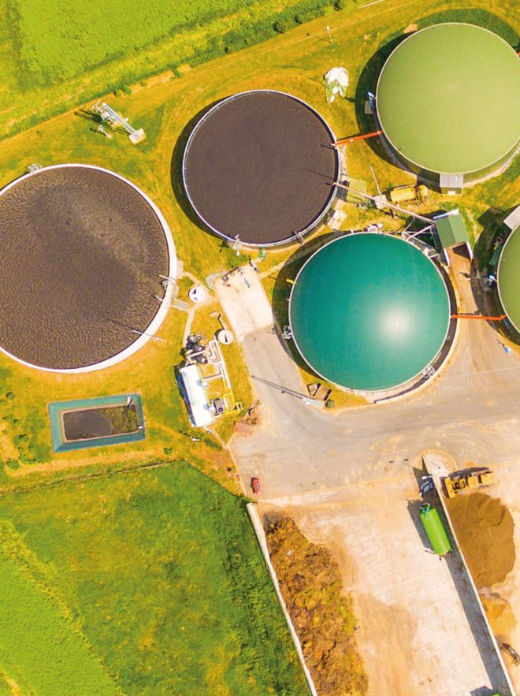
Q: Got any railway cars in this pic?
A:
No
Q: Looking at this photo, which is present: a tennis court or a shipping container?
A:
shipping container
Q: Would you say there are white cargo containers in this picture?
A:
Yes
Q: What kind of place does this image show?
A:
industrial area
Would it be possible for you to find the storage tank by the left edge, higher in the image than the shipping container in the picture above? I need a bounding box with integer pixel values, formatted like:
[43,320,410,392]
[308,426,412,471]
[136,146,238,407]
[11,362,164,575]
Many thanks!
[0,162,202,371]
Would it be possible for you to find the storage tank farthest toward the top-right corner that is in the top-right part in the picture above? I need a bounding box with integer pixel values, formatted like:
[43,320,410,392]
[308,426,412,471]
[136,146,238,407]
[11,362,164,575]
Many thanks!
[366,24,520,186]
